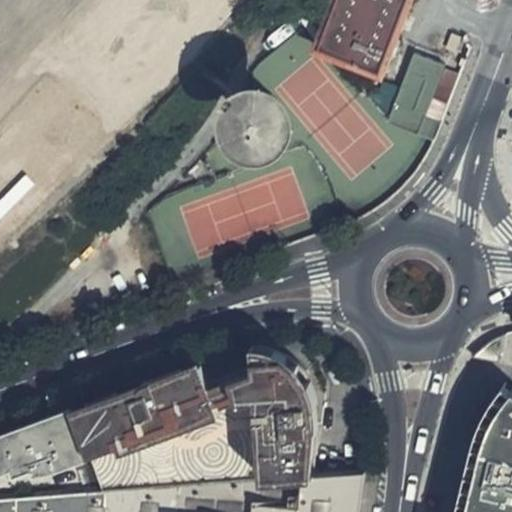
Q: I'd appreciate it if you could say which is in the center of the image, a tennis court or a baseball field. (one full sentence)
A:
It is a tennis court that can be seen in the center of the image.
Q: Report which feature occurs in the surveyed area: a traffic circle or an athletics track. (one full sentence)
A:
Visible in the photo is a traffic circle.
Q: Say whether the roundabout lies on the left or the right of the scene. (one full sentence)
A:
The roundabout is on the right side of the image.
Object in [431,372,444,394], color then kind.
white vehicle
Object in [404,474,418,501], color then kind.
white vehicle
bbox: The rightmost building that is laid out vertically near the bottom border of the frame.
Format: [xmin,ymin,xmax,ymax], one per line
[450,384,512,512]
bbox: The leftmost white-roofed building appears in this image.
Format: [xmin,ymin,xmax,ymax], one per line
[0,175,37,222]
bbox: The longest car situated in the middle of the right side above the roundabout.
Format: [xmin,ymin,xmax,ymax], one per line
[398,201,420,220]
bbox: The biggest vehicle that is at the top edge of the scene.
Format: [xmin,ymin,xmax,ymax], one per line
[264,24,296,51]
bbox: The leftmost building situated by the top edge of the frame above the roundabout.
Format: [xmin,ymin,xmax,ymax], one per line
[312,0,412,86]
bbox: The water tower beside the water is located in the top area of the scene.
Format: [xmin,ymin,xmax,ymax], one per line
[214,90,293,168]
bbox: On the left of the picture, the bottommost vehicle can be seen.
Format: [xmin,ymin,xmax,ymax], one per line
[68,347,92,362]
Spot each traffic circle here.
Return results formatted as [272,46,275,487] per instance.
[373,246,455,328]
